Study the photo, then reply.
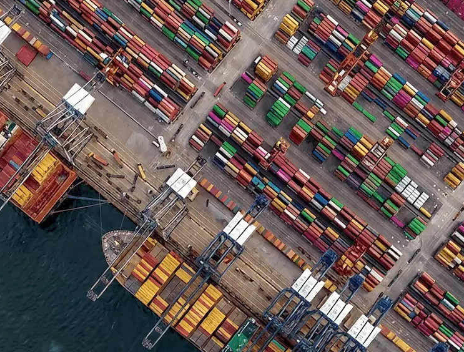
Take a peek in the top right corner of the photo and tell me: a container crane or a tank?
container crane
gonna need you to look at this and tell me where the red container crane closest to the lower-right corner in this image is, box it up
[328,235,371,282]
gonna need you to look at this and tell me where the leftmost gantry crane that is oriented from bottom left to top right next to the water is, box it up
[0,70,110,218]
